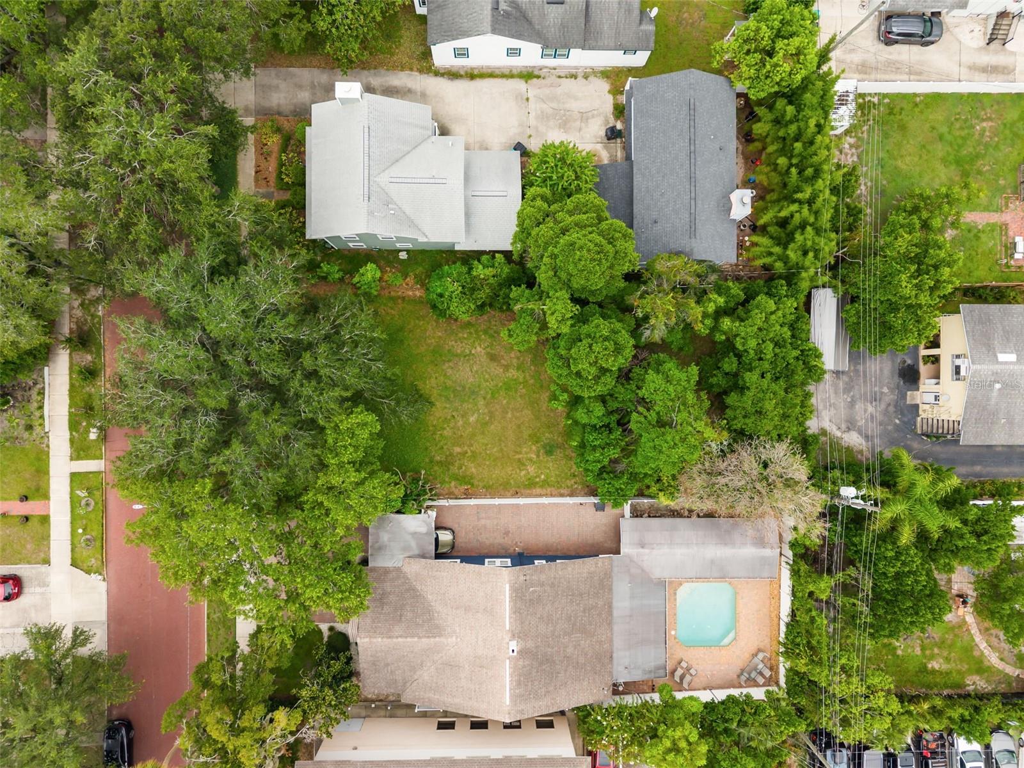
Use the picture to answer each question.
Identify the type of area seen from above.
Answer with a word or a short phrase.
residential area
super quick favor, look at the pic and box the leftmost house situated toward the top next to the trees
[305,81,520,253]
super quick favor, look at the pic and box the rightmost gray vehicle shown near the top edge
[883,11,947,45]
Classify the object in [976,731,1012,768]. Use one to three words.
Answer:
car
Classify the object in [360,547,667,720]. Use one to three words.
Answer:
house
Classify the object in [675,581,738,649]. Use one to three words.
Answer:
swimming pool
